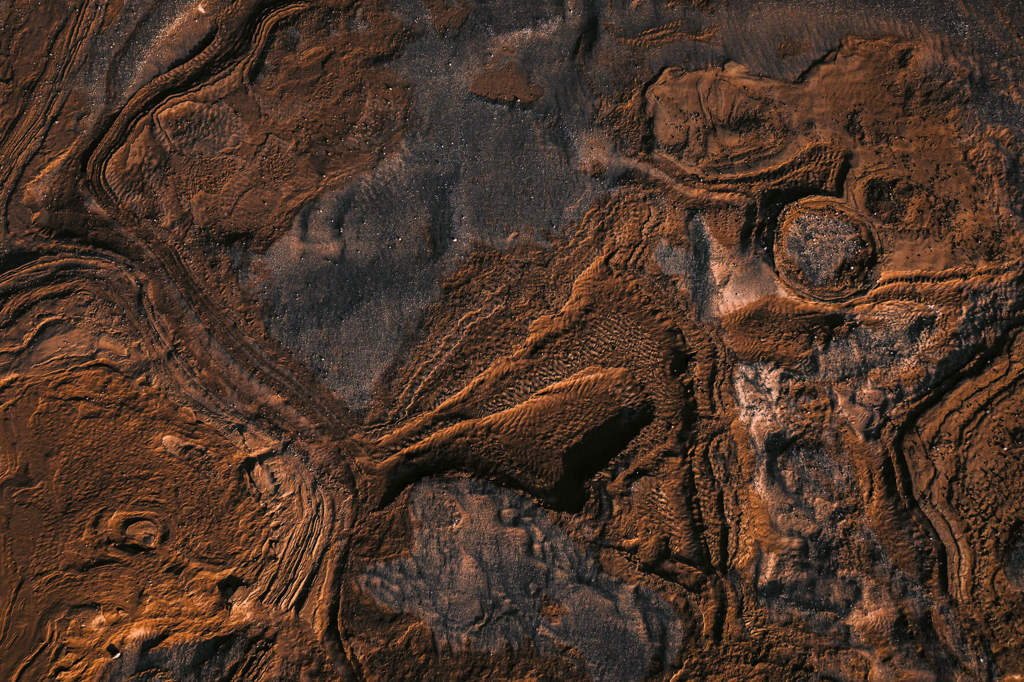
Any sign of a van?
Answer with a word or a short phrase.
No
